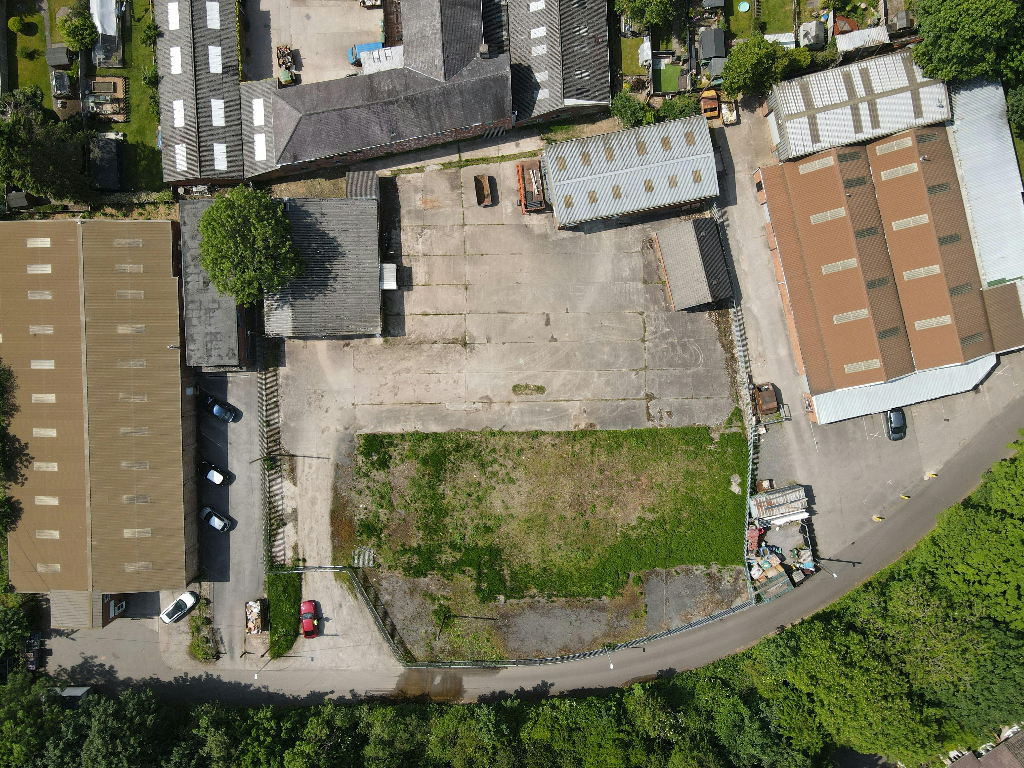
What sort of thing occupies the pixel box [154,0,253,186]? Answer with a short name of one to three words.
shed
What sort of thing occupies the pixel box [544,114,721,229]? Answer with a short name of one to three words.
shed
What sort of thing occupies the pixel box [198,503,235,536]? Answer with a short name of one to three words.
car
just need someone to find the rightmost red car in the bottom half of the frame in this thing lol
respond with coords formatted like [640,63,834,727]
[298,600,320,639]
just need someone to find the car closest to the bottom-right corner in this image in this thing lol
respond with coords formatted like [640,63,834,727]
[884,406,909,443]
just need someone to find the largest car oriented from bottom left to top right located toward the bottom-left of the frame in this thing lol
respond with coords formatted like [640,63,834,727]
[157,589,198,627]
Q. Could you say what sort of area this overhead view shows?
industrial area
